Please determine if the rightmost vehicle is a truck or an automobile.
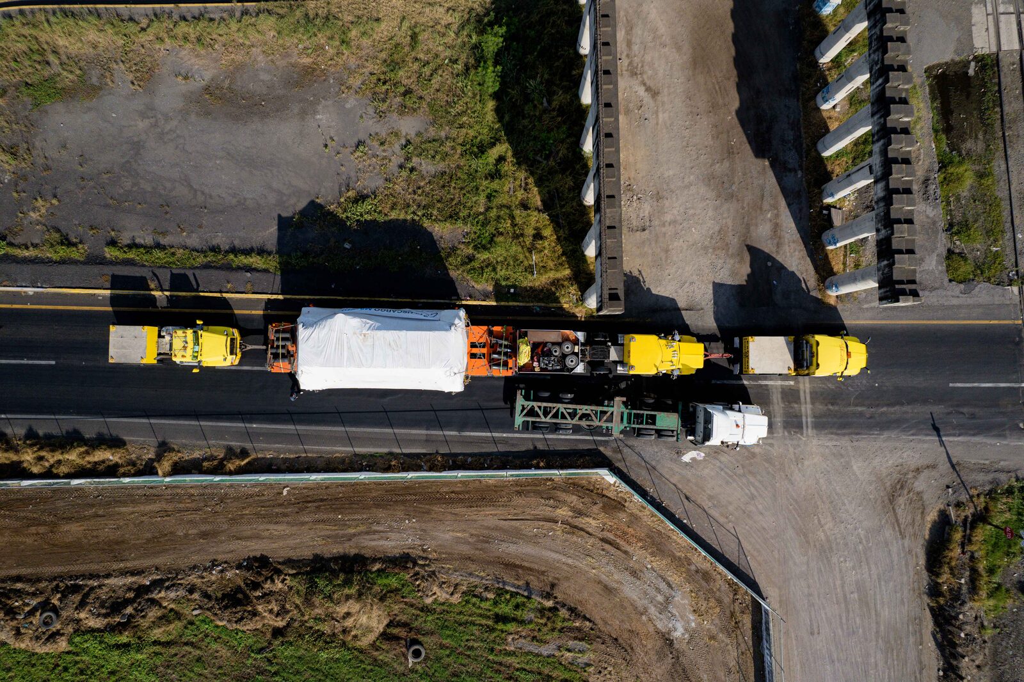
truck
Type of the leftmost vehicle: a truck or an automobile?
truck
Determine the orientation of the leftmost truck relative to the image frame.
from side to side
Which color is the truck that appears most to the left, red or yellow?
yellow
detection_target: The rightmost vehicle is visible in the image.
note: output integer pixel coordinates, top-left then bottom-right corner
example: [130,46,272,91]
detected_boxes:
[727,330,873,382]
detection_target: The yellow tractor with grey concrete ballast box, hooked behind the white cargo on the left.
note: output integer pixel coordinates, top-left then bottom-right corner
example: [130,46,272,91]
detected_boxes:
[110,320,245,371]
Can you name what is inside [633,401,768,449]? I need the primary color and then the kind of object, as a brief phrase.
white truck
